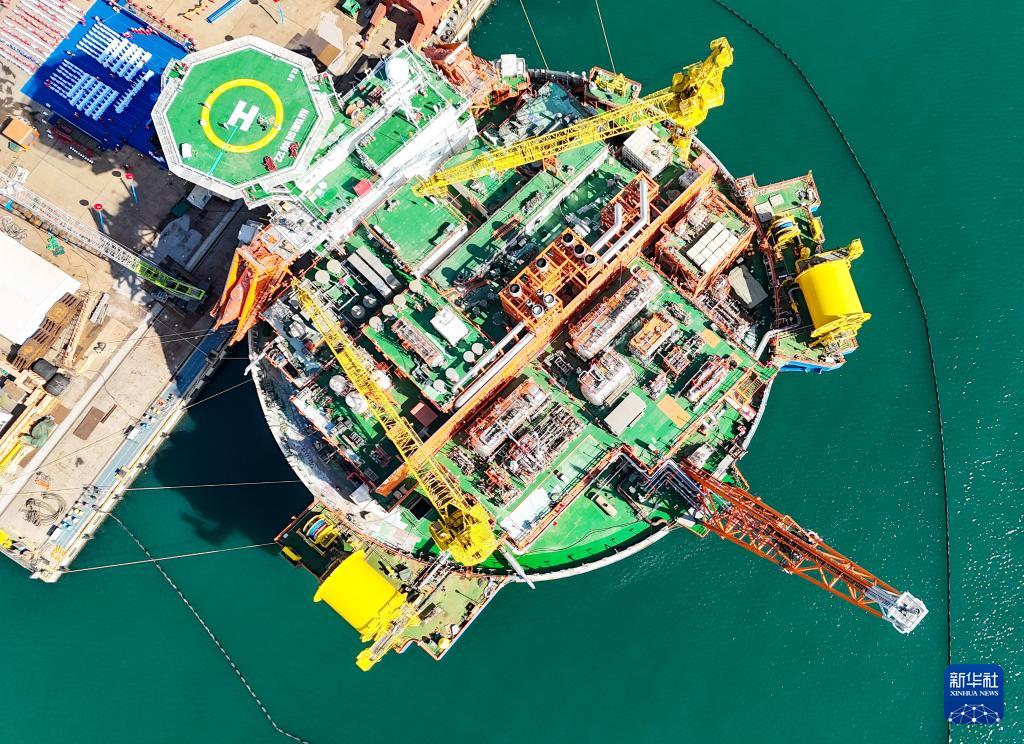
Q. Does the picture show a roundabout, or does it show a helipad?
helipad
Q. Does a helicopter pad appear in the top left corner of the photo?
Yes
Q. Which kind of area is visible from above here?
port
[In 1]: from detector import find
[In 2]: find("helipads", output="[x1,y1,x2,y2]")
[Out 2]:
[152,31,341,205]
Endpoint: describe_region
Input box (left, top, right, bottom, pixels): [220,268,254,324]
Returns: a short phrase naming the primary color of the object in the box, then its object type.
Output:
red boat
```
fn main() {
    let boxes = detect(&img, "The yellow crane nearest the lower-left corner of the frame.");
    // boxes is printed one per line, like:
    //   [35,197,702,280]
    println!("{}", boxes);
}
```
[288,273,502,572]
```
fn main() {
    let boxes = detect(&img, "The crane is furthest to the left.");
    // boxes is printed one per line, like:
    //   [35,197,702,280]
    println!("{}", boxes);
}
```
[0,183,221,321]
